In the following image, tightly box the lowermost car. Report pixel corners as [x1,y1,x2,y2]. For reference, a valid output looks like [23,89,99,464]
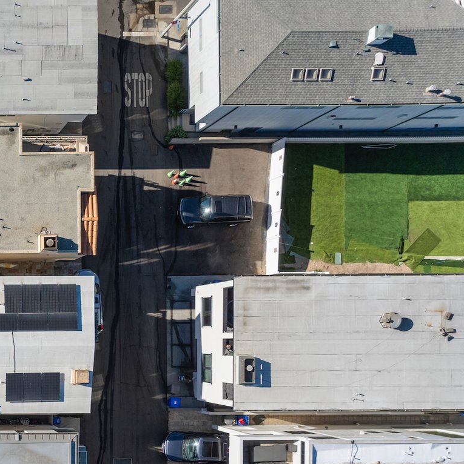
[160,431,226,463]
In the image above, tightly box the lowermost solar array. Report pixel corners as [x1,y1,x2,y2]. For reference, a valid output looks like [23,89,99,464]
[6,374,59,401]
